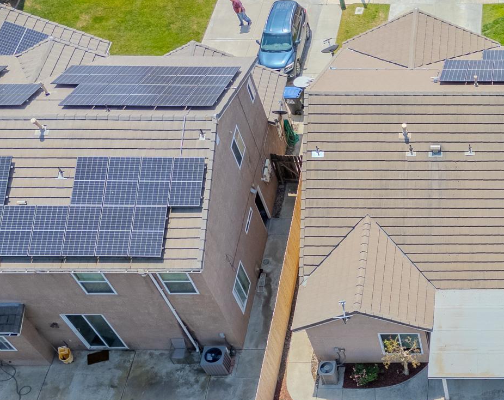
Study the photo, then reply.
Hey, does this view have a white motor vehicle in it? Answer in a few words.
No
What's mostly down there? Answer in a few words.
buildings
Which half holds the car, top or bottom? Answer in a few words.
top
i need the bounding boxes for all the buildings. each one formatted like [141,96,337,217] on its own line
[290,8,504,400]
[0,1,294,369]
